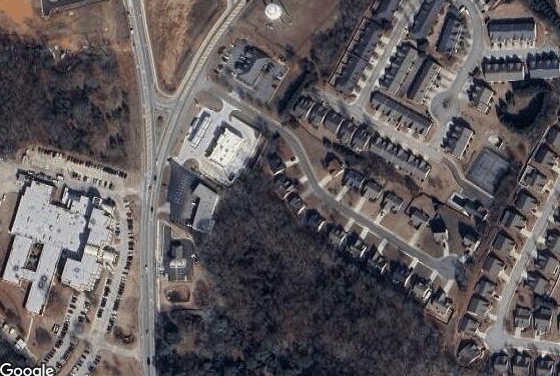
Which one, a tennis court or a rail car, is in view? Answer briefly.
tennis court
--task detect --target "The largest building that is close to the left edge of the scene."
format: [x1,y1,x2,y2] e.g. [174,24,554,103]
[3,181,117,312]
